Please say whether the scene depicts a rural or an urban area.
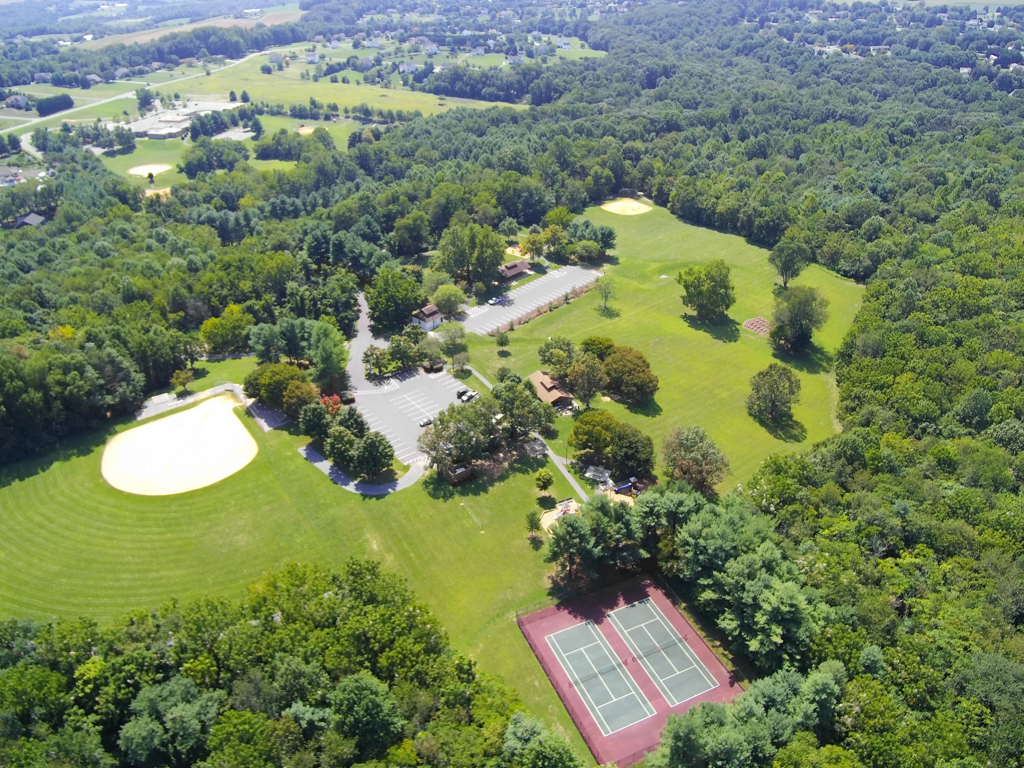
rural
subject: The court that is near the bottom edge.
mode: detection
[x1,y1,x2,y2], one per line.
[519,573,759,768]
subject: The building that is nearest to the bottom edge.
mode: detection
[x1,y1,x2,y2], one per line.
[528,368,573,409]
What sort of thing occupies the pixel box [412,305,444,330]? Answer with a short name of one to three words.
shed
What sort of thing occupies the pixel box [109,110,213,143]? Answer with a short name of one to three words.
building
